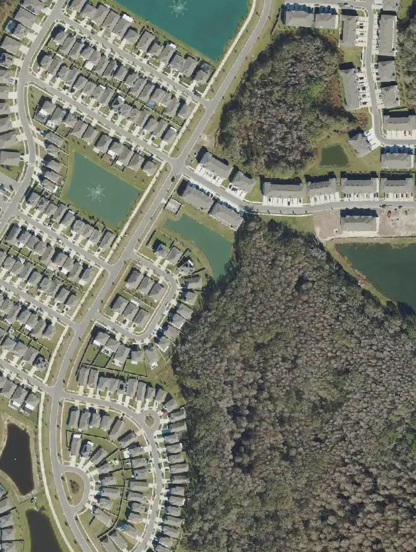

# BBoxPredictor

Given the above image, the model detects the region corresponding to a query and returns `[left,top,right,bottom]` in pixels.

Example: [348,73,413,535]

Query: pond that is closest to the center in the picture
[164,215,233,281]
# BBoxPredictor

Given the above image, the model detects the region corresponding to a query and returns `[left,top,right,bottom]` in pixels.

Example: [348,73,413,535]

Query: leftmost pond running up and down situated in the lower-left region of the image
[0,423,34,496]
